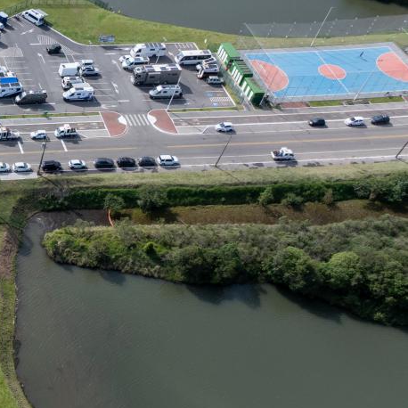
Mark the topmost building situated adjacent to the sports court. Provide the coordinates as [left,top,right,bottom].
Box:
[216,40,243,67]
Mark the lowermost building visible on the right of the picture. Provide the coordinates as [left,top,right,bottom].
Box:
[240,76,269,106]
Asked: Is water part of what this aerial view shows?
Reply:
Yes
